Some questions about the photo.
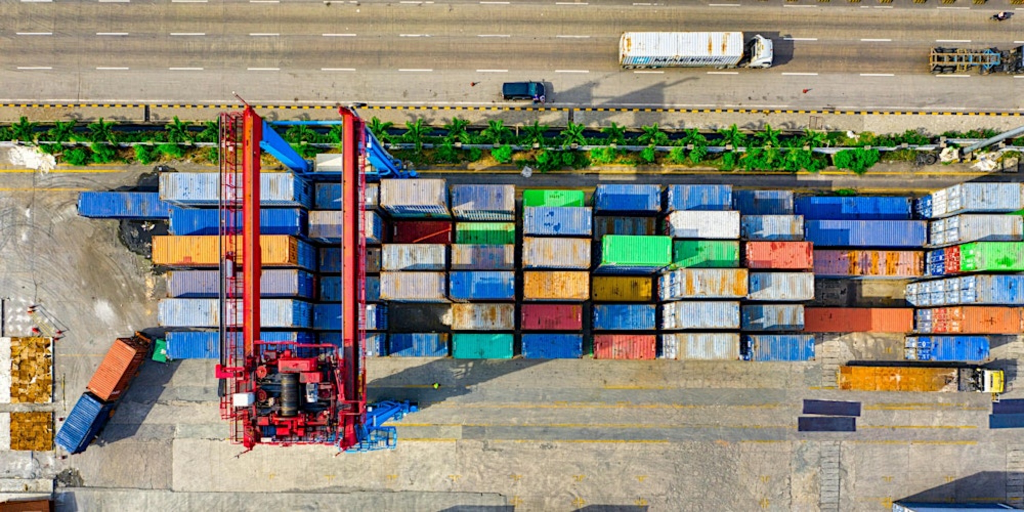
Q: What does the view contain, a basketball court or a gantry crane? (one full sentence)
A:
I can see a gantry crane in this picture.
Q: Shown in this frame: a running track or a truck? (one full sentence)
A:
This aerial view contains a truck.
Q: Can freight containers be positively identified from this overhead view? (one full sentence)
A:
Yes, a freight container can be made out from above.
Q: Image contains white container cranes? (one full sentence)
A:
No, no white container crane is visible in the view.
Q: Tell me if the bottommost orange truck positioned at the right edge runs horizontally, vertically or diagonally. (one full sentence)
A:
From this overhead view, the bottommost orange truck positioned at the right edge appears to run horizontally.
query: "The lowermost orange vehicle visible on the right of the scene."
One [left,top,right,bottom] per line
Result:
[835,365,1003,399]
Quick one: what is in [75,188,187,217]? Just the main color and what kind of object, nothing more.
blue shipping container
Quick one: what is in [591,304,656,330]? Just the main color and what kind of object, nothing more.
blue shipping container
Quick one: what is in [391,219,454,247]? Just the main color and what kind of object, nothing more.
red shipping container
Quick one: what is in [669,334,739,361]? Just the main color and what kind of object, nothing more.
white shipping container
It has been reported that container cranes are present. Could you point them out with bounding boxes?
[216,91,424,460]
